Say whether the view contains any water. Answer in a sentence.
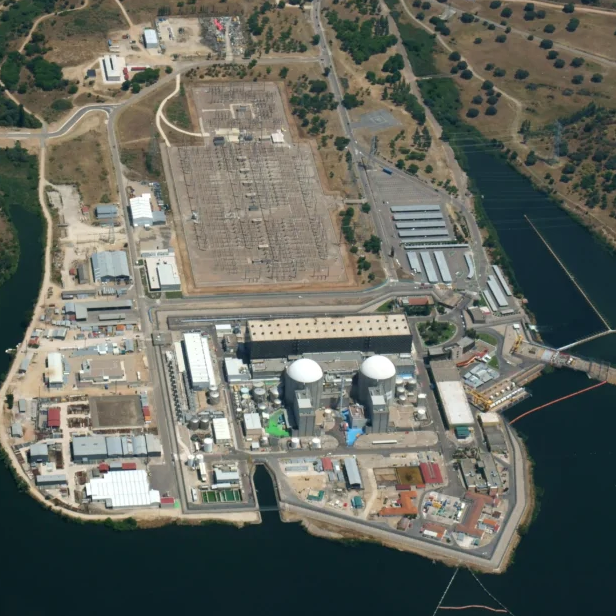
Yes, the picture does contain water.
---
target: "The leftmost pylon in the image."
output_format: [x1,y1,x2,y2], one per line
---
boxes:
[101,210,119,245]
